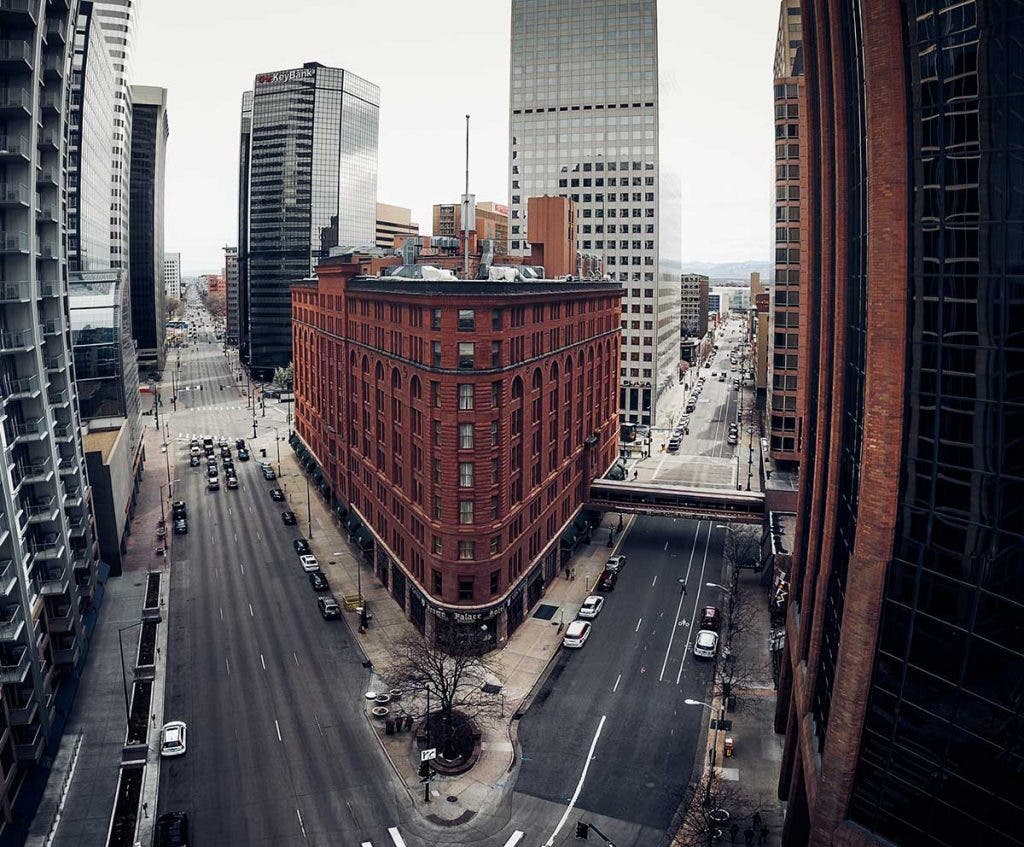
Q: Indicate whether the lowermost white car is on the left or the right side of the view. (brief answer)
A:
left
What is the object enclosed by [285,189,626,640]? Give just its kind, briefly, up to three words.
building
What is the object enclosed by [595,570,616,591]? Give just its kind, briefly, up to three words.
car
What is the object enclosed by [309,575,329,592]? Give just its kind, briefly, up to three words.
car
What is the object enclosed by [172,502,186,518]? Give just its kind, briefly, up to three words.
vehicle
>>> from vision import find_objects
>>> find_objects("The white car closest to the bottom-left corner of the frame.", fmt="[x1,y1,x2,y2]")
[161,724,186,757]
